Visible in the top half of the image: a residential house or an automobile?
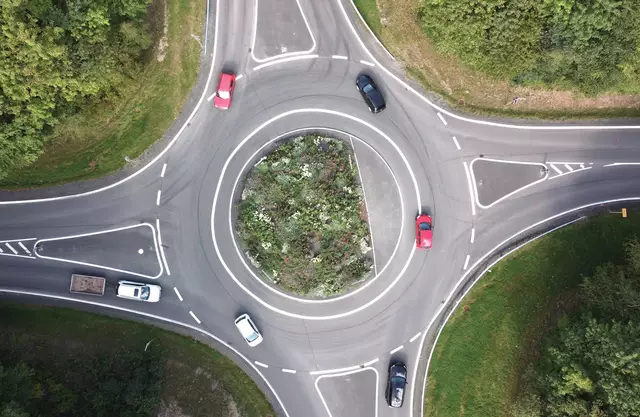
automobile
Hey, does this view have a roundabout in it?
Yes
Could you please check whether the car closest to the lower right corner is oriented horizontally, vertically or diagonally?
vertically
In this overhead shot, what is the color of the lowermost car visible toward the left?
white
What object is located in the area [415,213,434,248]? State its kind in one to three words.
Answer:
car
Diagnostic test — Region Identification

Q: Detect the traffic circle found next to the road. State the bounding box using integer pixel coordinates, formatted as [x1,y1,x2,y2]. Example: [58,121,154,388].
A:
[156,54,475,374]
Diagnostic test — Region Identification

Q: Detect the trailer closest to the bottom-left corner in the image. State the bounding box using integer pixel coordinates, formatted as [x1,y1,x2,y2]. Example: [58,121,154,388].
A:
[71,274,117,296]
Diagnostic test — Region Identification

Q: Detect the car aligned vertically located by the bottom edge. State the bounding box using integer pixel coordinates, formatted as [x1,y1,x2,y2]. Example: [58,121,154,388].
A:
[388,364,409,408]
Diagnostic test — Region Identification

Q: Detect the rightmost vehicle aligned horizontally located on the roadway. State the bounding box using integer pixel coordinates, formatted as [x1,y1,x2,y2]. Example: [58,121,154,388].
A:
[114,281,162,304]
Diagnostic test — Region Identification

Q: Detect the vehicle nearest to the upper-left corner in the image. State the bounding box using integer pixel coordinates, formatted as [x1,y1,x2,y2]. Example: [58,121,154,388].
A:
[214,73,236,109]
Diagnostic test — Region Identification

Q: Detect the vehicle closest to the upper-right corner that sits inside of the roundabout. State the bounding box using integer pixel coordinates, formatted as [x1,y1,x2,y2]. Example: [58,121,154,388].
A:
[357,76,386,114]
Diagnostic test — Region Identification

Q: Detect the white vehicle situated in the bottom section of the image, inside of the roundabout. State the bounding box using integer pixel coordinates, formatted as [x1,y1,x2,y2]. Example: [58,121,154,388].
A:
[236,314,263,346]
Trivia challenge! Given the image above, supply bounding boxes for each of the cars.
[114,281,162,304]
[357,76,386,114]
[388,364,409,408]
[236,314,263,346]
[214,73,236,109]
[415,213,434,248]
